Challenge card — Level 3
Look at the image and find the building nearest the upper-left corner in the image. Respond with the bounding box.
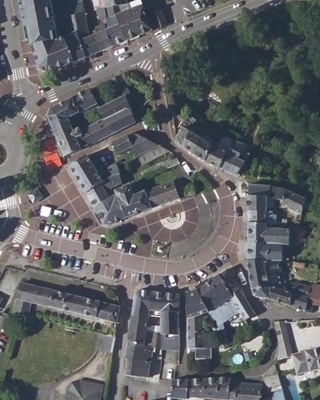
[20,0,62,41]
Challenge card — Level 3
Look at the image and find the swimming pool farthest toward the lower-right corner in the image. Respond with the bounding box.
[288,373,302,400]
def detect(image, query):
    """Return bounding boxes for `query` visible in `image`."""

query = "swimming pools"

[233,354,244,365]
[288,373,302,400]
